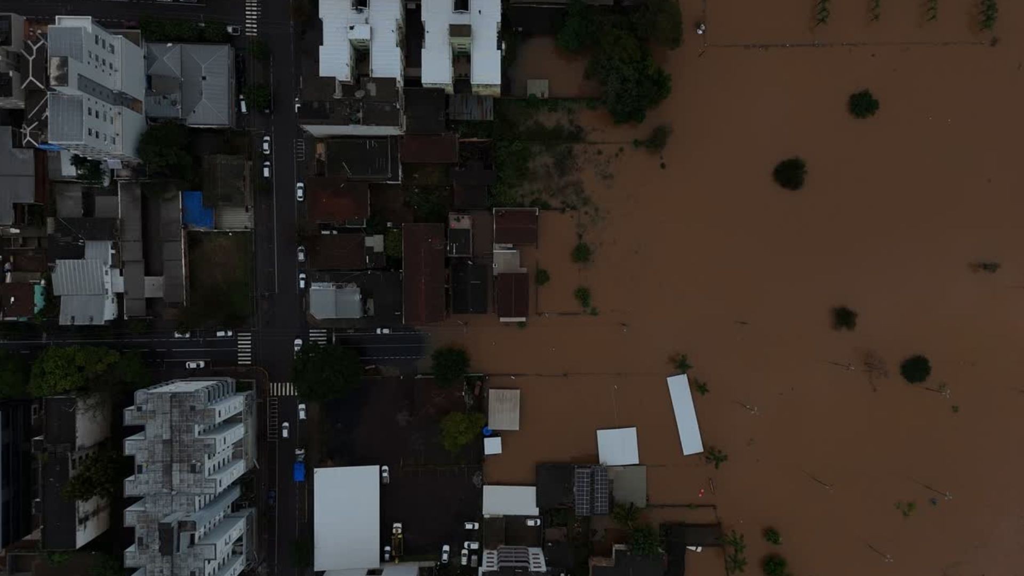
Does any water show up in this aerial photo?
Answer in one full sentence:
Yes, there's water in this view.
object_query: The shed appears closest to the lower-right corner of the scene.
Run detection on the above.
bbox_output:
[658,519,721,576]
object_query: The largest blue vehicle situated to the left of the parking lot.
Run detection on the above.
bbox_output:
[292,448,306,482]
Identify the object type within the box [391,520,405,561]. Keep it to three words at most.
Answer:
vehicle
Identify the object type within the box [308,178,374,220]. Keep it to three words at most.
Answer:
house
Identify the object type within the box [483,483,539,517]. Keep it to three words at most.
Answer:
building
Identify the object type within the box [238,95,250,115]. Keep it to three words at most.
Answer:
vehicle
